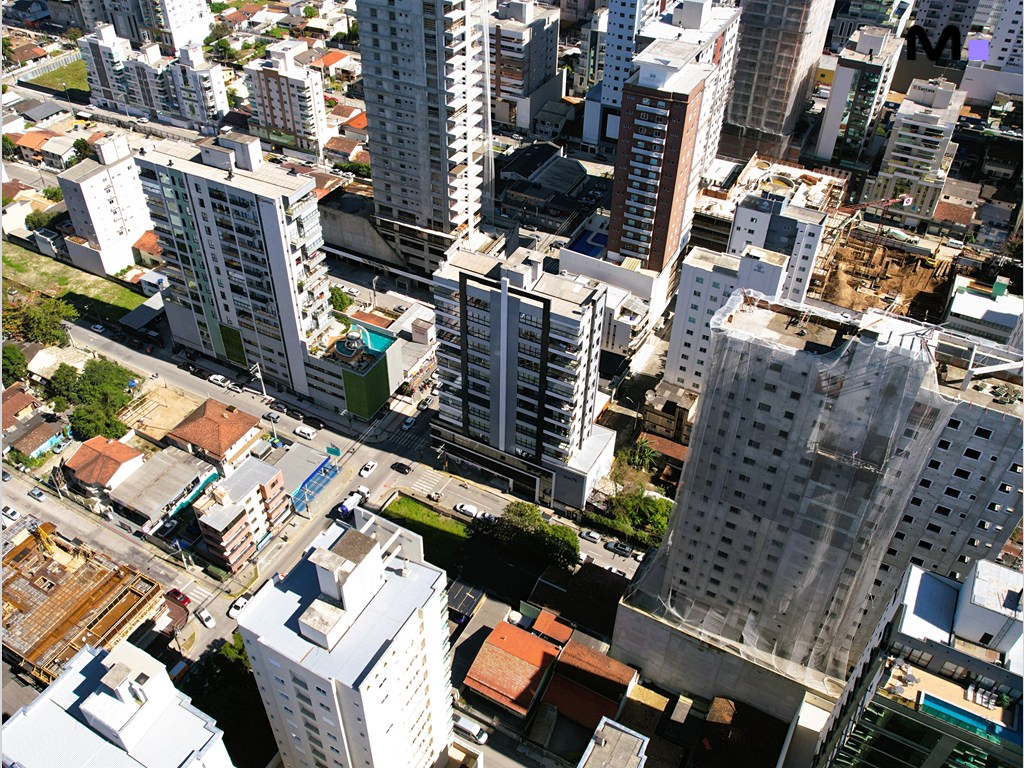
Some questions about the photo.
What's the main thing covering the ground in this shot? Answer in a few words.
buildings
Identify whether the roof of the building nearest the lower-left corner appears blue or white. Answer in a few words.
white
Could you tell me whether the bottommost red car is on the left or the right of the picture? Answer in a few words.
left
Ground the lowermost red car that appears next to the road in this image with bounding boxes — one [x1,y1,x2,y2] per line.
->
[170,587,193,609]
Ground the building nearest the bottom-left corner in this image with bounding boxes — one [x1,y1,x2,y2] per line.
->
[0,641,245,768]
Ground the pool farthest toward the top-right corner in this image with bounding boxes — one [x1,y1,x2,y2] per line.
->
[569,238,605,261]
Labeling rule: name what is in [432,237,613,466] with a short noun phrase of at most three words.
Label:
building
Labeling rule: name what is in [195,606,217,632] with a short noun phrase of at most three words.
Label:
car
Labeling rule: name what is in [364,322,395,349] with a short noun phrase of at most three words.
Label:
swimming pool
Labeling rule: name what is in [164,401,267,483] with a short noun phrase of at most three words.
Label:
house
